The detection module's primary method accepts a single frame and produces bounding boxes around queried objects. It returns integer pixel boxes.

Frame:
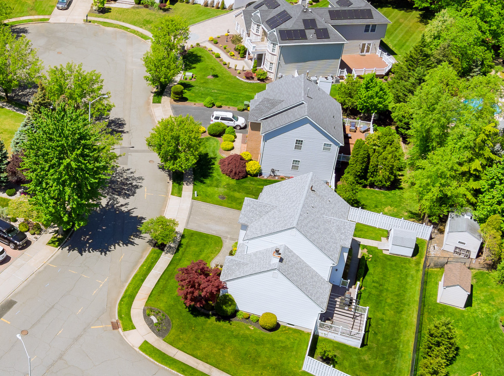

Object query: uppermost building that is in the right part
[229,0,396,82]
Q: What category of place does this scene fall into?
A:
residential area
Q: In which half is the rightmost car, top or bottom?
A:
top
